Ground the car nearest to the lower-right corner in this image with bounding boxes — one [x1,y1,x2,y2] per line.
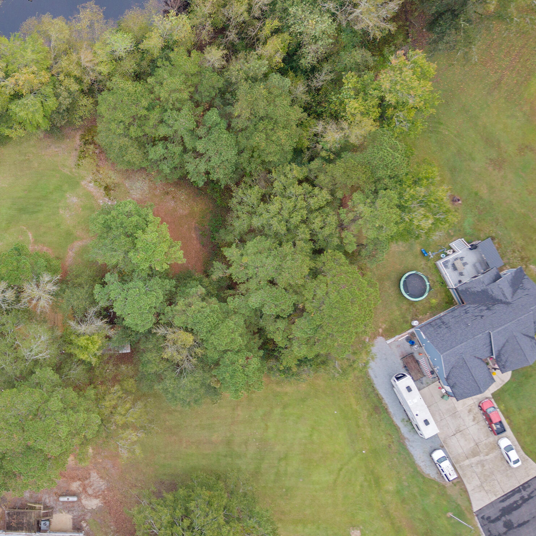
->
[496,435,521,468]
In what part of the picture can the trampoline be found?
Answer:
right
